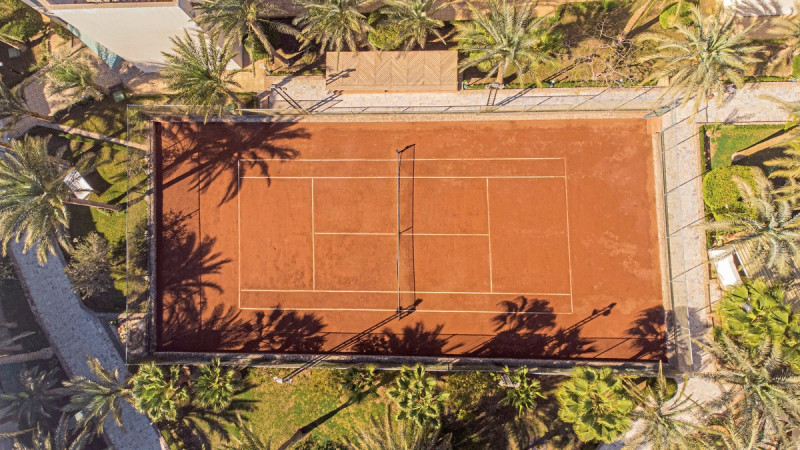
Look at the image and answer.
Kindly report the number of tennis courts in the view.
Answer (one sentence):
Only 1 tennis court is visible.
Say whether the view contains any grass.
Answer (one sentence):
Yes, there is grass in the image.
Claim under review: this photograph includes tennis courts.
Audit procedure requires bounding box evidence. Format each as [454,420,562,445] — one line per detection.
[155,112,666,362]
